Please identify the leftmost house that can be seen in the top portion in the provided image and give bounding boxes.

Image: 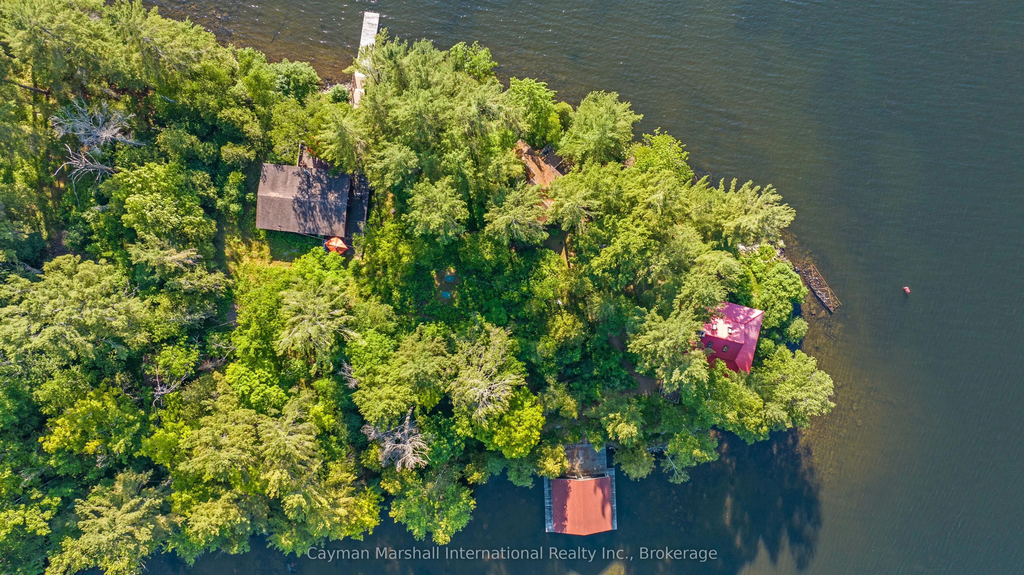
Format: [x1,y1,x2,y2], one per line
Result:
[256,163,352,237]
